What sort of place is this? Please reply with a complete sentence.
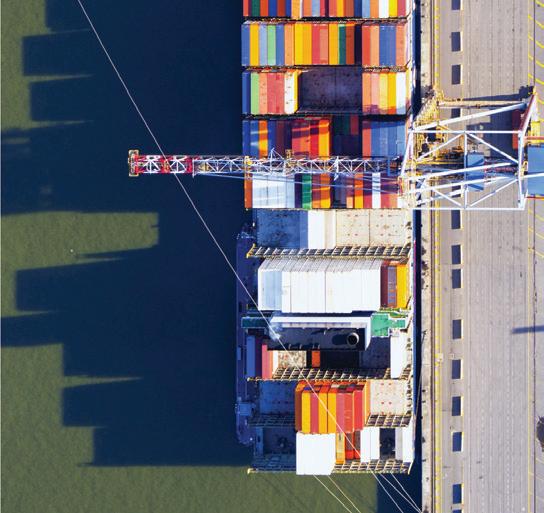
What you see here is a port.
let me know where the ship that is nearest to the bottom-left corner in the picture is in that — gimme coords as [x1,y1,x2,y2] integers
[235,235,253,448]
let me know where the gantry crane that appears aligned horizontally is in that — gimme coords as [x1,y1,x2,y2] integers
[128,83,544,215]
